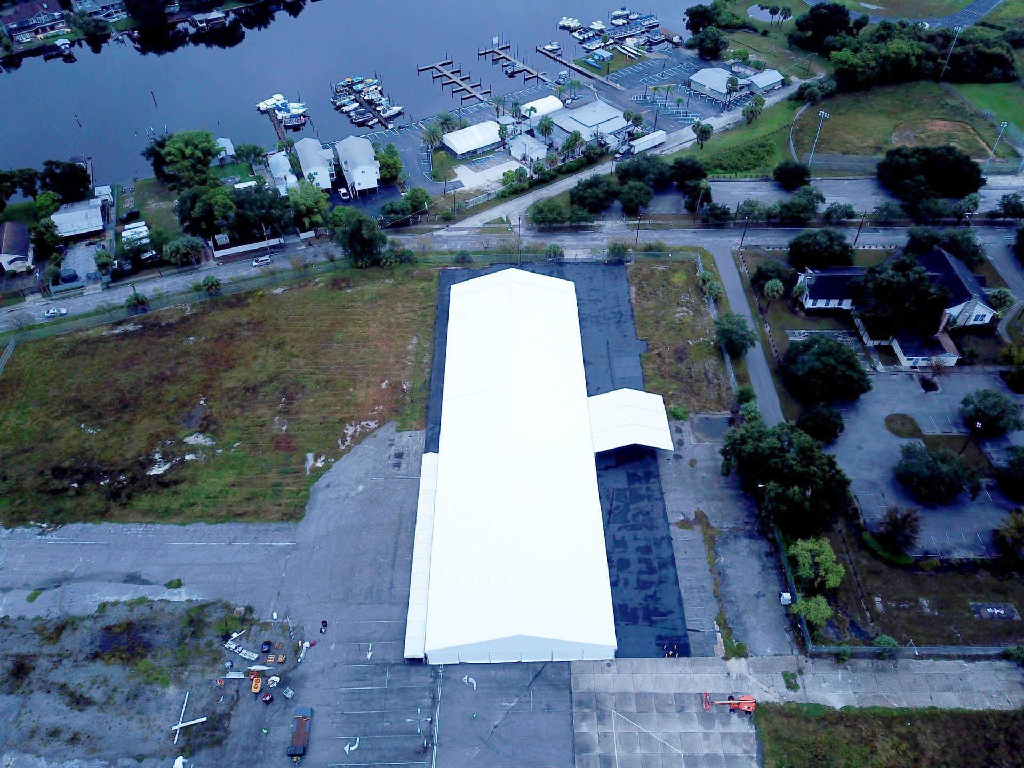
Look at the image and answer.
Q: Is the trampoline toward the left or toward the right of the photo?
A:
left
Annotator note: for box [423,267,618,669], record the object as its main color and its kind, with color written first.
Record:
white tent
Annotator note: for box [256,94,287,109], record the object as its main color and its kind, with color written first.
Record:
white boat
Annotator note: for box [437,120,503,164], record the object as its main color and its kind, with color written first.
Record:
white tent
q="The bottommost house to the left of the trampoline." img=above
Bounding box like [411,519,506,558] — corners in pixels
[0,212,54,276]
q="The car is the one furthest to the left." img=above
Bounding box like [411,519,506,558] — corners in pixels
[44,306,68,318]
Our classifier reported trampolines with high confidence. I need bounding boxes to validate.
[53,263,78,284]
